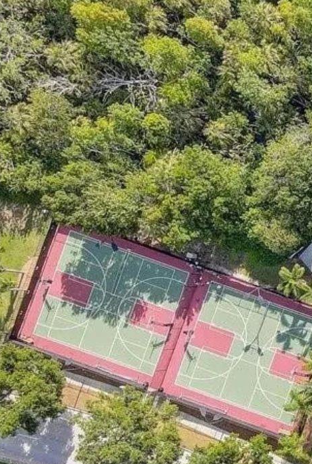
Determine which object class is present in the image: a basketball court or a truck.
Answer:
basketball court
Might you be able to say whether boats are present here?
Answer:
No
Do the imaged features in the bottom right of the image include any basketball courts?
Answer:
Yes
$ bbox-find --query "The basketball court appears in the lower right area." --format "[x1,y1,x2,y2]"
[159,273,312,432]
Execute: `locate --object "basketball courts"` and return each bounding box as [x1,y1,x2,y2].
[18,227,204,394]
[159,273,312,432]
